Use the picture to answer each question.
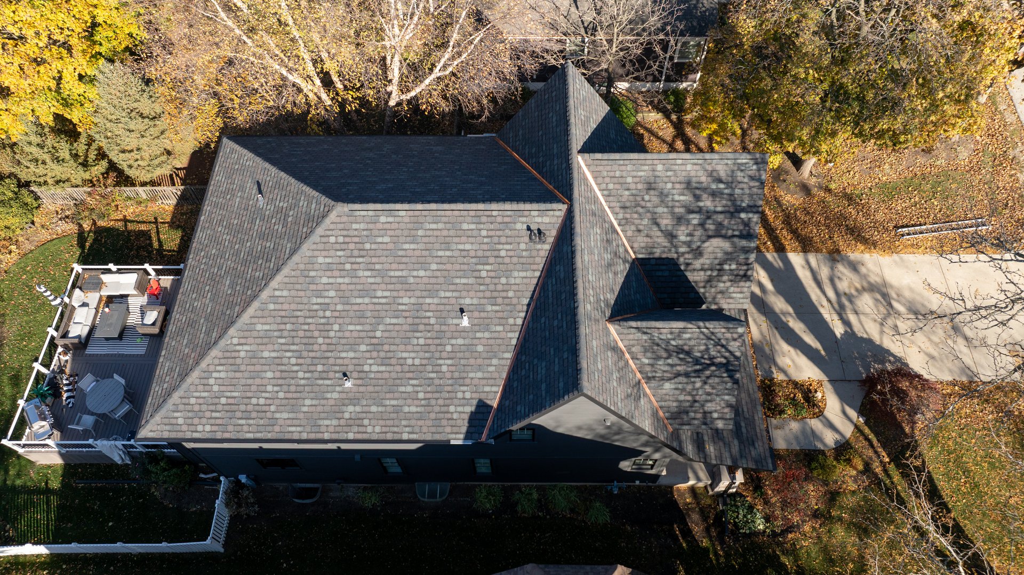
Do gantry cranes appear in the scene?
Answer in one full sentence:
No, I find no gantry crane anywhere in the image.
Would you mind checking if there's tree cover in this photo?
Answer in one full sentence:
Yes, some tree cover is visible.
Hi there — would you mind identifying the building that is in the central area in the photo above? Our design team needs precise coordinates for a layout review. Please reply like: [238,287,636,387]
[131,58,778,516]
